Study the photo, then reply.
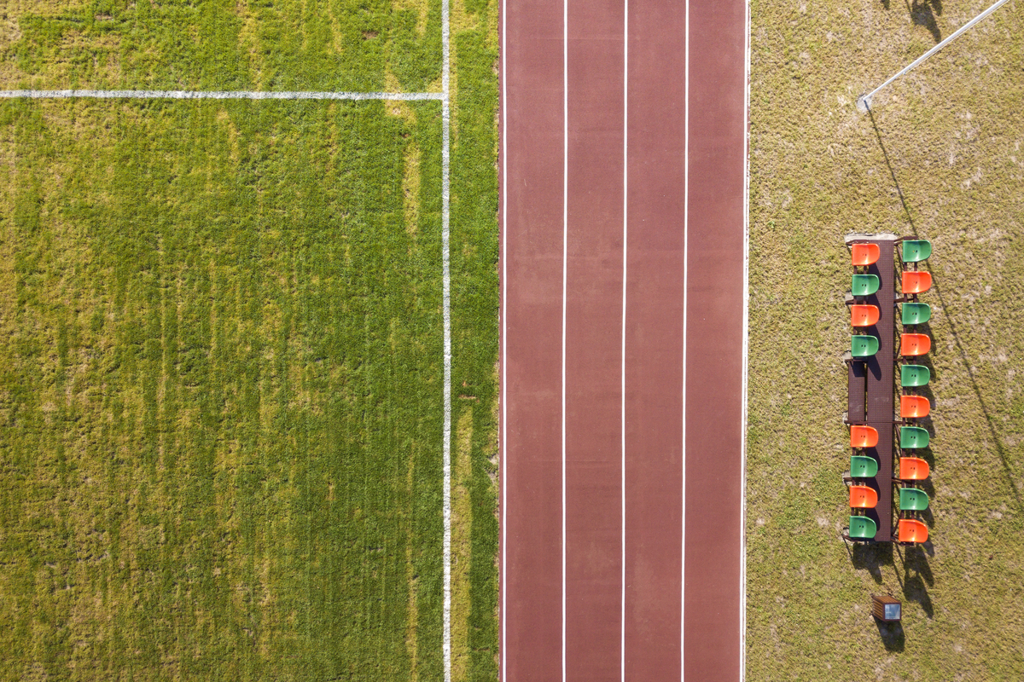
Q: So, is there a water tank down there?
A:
No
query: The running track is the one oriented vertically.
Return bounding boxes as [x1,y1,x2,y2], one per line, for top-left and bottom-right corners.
[499,0,750,682]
